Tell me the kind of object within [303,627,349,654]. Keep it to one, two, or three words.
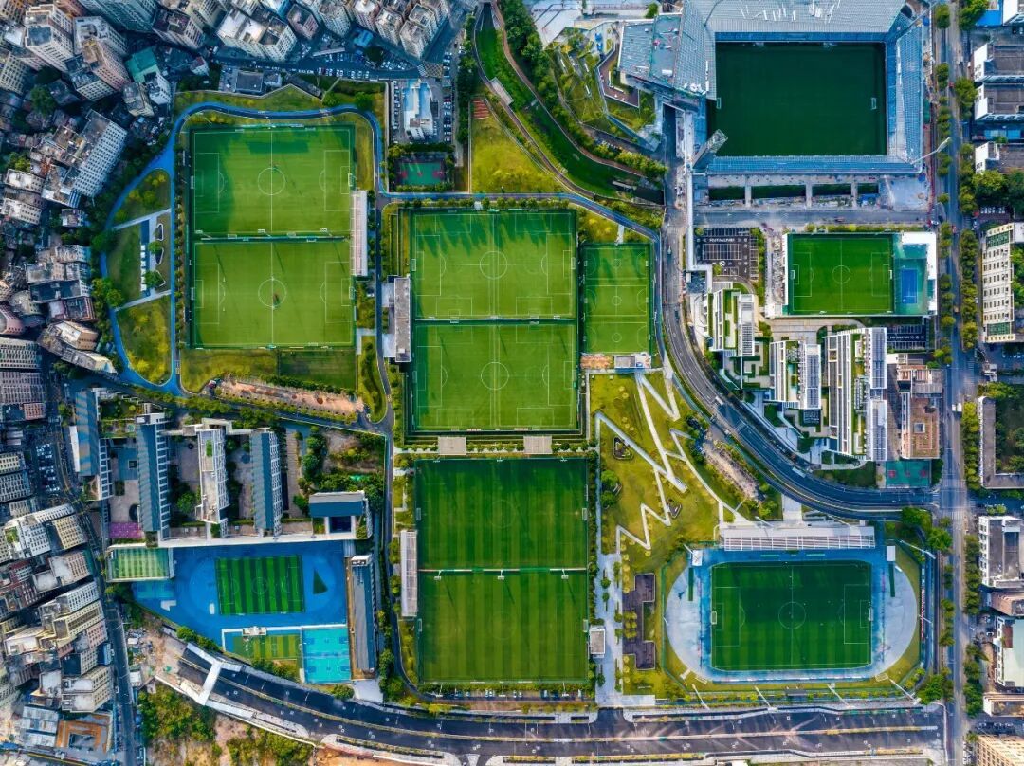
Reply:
basketball court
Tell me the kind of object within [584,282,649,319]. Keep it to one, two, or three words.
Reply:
sports field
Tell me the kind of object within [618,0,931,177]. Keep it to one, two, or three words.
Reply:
stadium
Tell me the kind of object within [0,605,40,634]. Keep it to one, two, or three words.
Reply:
building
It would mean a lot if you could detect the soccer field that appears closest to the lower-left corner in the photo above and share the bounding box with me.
[113,549,166,577]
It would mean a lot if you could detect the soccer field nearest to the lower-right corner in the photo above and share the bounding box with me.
[711,560,872,671]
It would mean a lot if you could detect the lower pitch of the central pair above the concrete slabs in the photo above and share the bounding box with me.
[413,323,576,429]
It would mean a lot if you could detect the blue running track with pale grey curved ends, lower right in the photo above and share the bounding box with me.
[665,547,917,684]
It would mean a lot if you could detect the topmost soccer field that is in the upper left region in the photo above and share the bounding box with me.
[192,129,353,234]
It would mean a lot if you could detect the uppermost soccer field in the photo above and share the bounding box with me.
[714,43,888,155]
